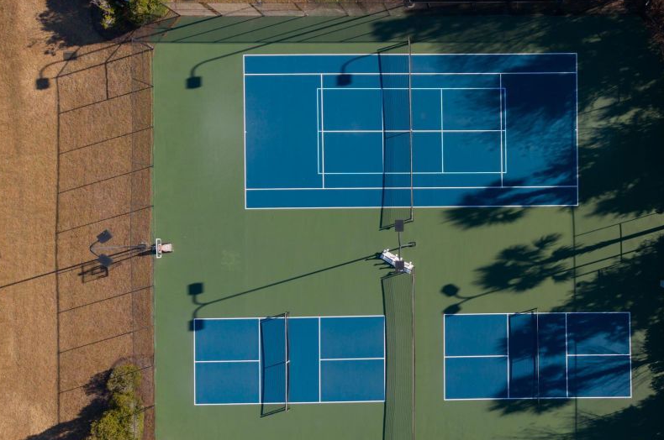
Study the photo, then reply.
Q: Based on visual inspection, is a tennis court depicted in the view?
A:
Yes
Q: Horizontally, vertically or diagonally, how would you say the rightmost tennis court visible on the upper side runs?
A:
horizontally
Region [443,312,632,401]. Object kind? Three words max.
sports court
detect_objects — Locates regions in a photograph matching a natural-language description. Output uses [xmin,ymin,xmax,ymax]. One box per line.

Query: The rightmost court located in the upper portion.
[244,51,579,209]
